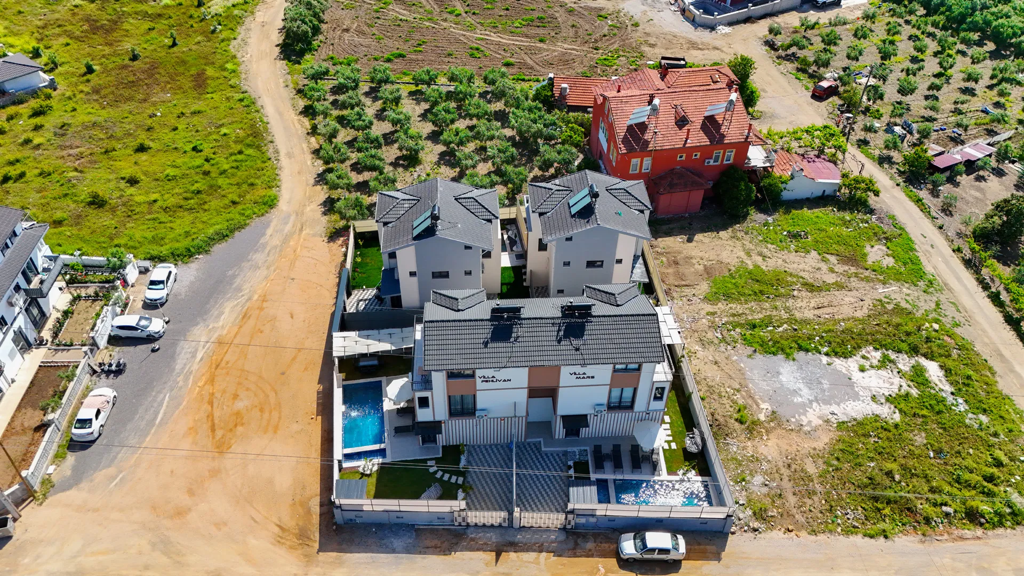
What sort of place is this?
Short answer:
residential area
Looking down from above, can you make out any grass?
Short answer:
Yes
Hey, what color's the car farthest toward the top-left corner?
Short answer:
white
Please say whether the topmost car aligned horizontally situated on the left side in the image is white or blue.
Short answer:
white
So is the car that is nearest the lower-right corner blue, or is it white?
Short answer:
white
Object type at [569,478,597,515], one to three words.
shed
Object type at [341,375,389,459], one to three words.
swimming pool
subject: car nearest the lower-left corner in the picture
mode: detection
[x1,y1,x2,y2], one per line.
[65,386,117,438]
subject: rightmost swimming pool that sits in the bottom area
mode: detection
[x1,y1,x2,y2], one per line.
[606,474,719,511]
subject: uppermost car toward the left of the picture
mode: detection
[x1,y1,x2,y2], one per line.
[140,261,177,302]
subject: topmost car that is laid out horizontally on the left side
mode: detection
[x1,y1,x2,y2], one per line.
[106,308,168,337]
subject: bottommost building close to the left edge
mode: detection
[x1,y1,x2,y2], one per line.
[0,203,79,394]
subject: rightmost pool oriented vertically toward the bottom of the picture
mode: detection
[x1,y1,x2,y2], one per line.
[593,473,610,507]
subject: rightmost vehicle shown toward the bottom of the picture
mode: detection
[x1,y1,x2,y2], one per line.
[617,528,687,562]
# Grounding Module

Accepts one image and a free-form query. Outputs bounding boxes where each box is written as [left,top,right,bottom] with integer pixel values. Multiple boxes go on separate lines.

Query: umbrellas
[629,421,667,454]
[382,380,415,414]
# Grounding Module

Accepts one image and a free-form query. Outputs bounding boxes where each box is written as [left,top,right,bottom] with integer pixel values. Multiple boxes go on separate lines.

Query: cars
[140,261,177,302]
[106,308,168,337]
[617,528,687,562]
[65,386,117,438]
[812,80,841,97]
